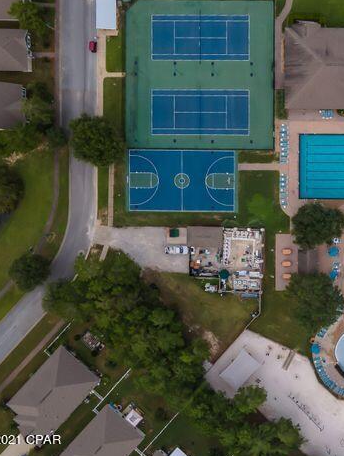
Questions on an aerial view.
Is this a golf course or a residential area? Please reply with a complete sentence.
It's a residential area.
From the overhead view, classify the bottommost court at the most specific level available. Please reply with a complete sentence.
The bottommost court appears to be a basketball court.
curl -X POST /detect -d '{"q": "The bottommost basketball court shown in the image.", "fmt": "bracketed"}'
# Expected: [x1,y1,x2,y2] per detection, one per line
[127,150,237,212]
